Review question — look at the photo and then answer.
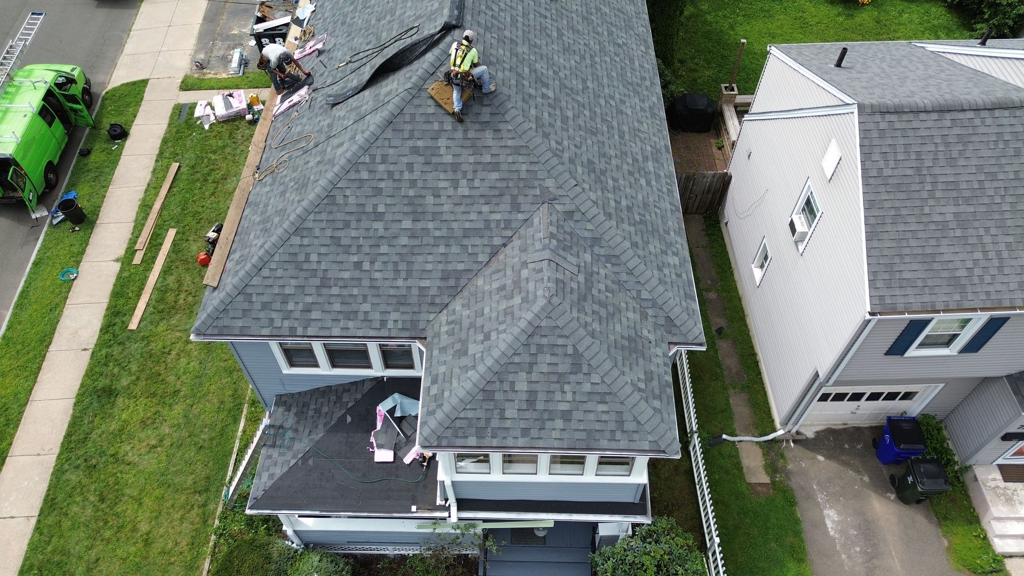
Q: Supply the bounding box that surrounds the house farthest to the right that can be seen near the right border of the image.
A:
[719,25,1024,468]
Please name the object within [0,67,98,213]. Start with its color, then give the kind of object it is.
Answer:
green van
